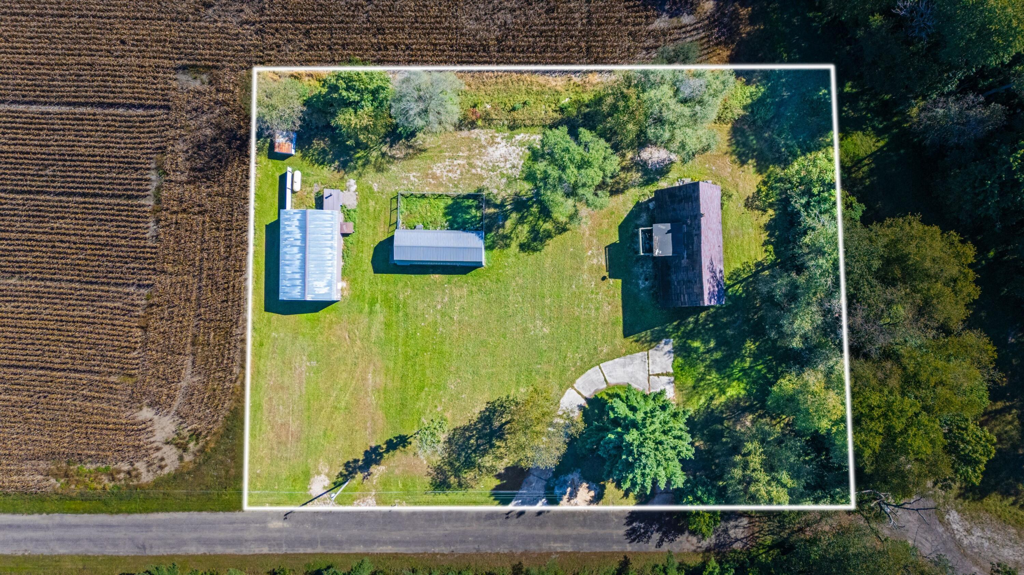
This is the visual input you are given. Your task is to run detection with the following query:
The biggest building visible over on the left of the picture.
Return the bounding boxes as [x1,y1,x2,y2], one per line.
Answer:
[279,208,341,300]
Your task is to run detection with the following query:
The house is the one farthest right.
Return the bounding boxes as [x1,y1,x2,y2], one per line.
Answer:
[633,181,727,306]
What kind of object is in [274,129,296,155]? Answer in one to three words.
shed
